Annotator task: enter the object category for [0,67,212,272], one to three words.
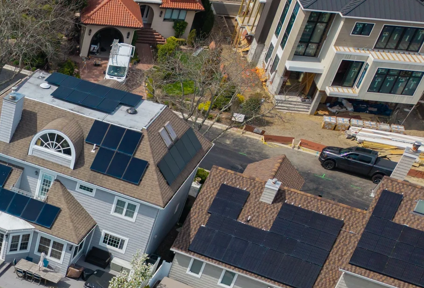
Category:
house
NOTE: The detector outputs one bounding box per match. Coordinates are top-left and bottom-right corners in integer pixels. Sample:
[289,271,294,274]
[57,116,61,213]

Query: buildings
[0,67,212,272]
[166,131,424,288]
[234,0,424,114]
[78,0,204,53]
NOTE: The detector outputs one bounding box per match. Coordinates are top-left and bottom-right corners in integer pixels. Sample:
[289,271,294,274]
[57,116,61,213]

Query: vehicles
[320,146,392,183]
[108,31,136,73]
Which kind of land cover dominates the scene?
buildings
